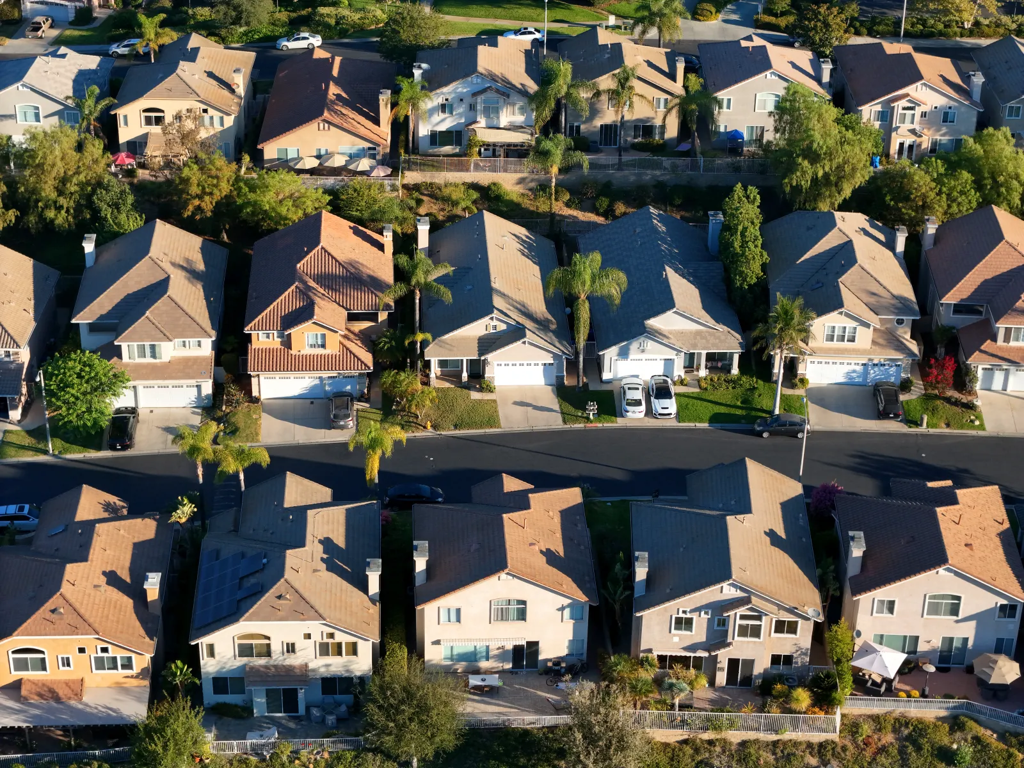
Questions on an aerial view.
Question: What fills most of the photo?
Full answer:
The bulk of the photo consists of buildings.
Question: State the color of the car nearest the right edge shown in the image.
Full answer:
The car nearest the right edge is black.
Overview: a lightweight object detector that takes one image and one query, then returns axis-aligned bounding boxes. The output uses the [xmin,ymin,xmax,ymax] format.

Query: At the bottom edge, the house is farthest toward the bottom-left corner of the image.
[0,483,178,762]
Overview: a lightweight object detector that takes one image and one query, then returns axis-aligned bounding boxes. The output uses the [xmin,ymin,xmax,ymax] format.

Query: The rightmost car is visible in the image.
[875,380,905,421]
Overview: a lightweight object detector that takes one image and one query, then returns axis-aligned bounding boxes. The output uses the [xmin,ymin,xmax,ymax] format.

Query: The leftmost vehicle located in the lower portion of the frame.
[0,503,32,533]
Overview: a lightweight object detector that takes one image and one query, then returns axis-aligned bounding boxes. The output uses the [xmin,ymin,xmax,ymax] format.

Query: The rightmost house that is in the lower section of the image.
[829,461,1024,663]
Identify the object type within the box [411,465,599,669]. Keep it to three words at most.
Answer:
house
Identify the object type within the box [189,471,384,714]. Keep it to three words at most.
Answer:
house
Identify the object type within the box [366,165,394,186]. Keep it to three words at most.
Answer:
umbrella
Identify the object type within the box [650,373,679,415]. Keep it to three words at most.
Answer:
car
